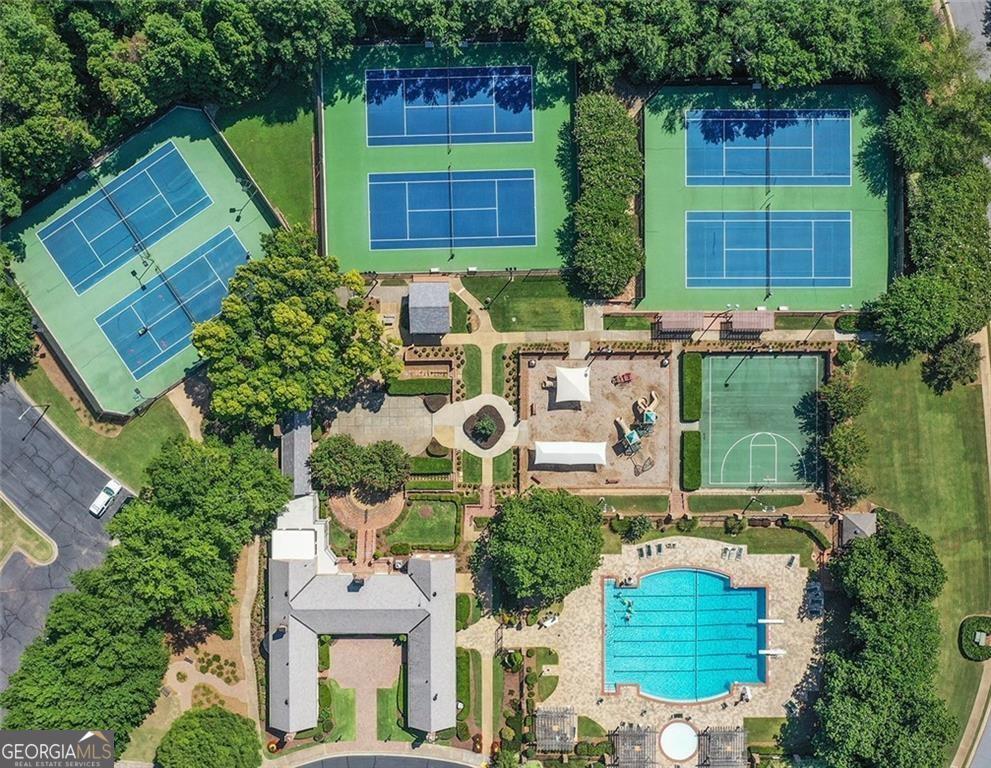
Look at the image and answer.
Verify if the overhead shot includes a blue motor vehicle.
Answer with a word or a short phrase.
No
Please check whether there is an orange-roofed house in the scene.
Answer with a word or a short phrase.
No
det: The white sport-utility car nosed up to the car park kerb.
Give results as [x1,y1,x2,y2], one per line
[85,482,118,518]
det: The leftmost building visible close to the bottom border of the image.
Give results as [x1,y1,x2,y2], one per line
[254,490,457,741]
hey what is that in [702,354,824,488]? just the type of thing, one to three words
basketball court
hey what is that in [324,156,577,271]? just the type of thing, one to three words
tennis court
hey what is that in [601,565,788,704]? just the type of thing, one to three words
swimming pool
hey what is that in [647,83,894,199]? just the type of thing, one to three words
tennis court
